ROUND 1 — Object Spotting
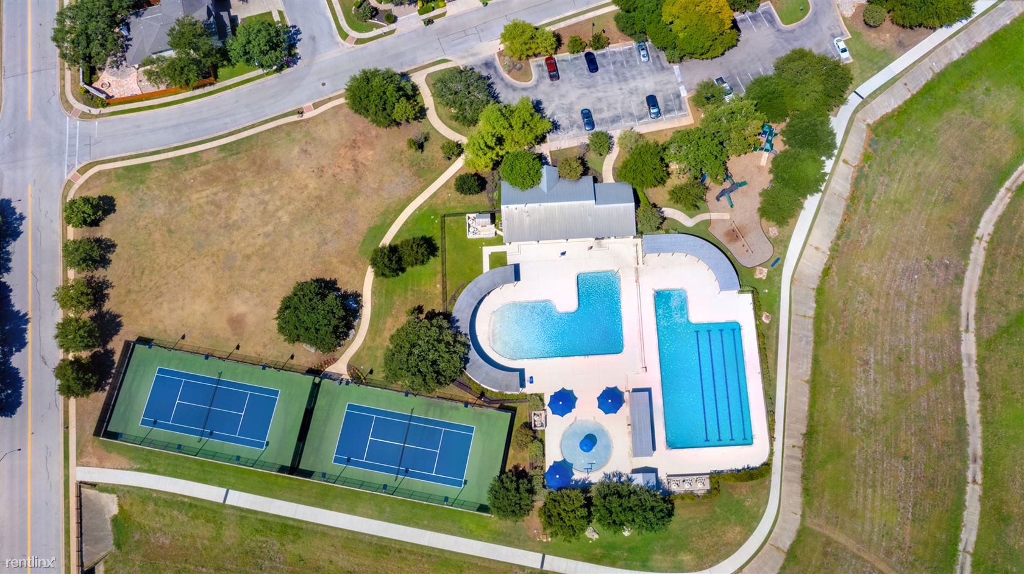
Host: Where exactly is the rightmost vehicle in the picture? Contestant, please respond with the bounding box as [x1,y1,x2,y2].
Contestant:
[834,37,850,59]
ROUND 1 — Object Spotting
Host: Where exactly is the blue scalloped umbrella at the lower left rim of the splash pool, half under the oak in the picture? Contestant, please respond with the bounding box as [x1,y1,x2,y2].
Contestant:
[542,461,572,490]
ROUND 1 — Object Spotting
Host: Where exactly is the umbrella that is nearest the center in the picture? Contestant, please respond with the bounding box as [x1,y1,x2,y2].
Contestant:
[546,388,576,418]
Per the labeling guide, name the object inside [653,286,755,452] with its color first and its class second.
blue swimming pool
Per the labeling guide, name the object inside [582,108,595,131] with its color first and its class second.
blue vehicle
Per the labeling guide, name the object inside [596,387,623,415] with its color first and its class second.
blue umbrella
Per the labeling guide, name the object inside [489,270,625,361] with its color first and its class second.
blue swimming pool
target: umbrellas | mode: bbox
[596,387,623,415]
[542,461,572,490]
[546,388,576,418]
